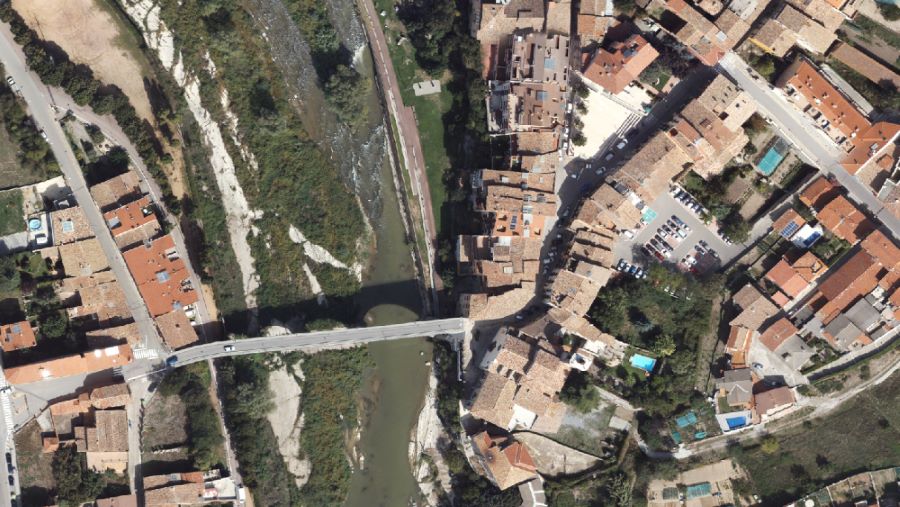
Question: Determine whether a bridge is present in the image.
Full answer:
Yes, the picture does show a bridge.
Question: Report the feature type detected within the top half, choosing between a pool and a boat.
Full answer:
There is a pool within the top half.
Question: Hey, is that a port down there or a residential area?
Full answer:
What you see here is a residential area.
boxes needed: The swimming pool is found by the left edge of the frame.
[28,213,49,245]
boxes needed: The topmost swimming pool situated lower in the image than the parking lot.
[628,353,657,373]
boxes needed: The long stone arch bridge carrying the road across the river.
[195,316,467,362]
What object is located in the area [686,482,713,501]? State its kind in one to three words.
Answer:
swimming pool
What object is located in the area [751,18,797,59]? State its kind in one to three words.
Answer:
house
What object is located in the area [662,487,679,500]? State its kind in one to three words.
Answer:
swimming pool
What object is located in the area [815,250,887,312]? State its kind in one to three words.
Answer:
barn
